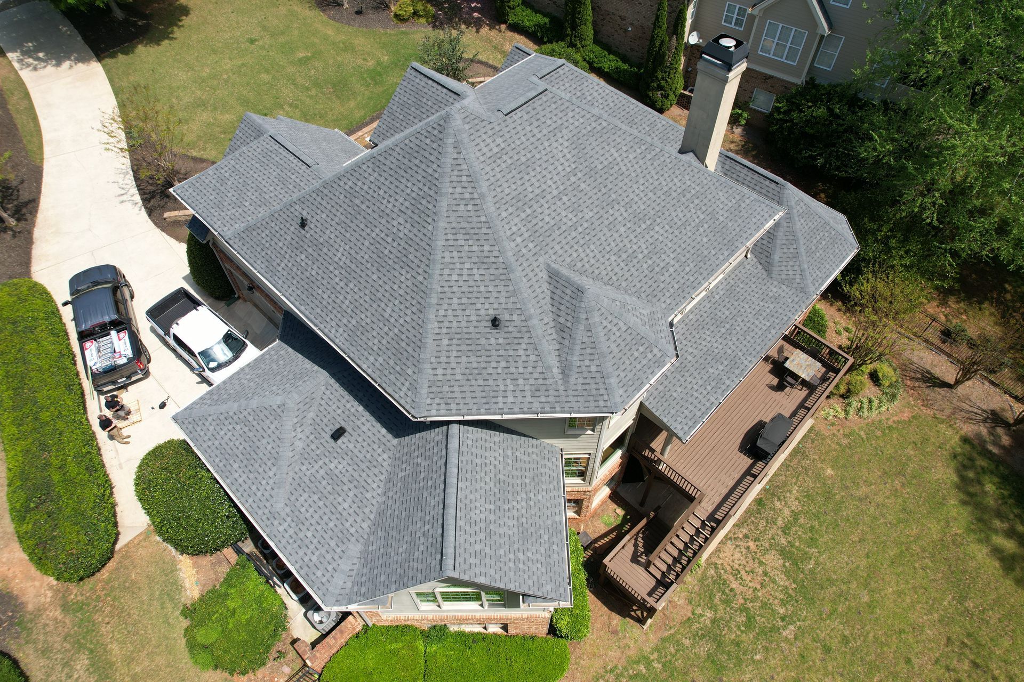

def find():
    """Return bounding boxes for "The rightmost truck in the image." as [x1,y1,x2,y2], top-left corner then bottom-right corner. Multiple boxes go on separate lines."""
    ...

[145,289,257,387]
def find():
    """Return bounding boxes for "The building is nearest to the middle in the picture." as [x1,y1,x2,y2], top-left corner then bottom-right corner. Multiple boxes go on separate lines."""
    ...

[169,34,863,635]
